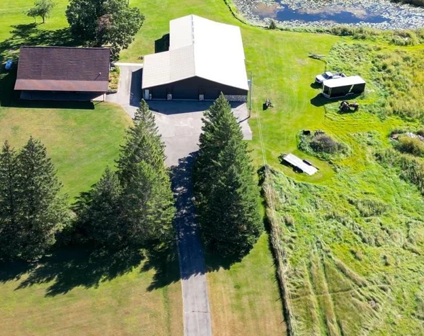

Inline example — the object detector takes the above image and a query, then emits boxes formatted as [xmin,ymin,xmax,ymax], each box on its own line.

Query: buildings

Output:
[142,14,250,102]
[13,45,113,101]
